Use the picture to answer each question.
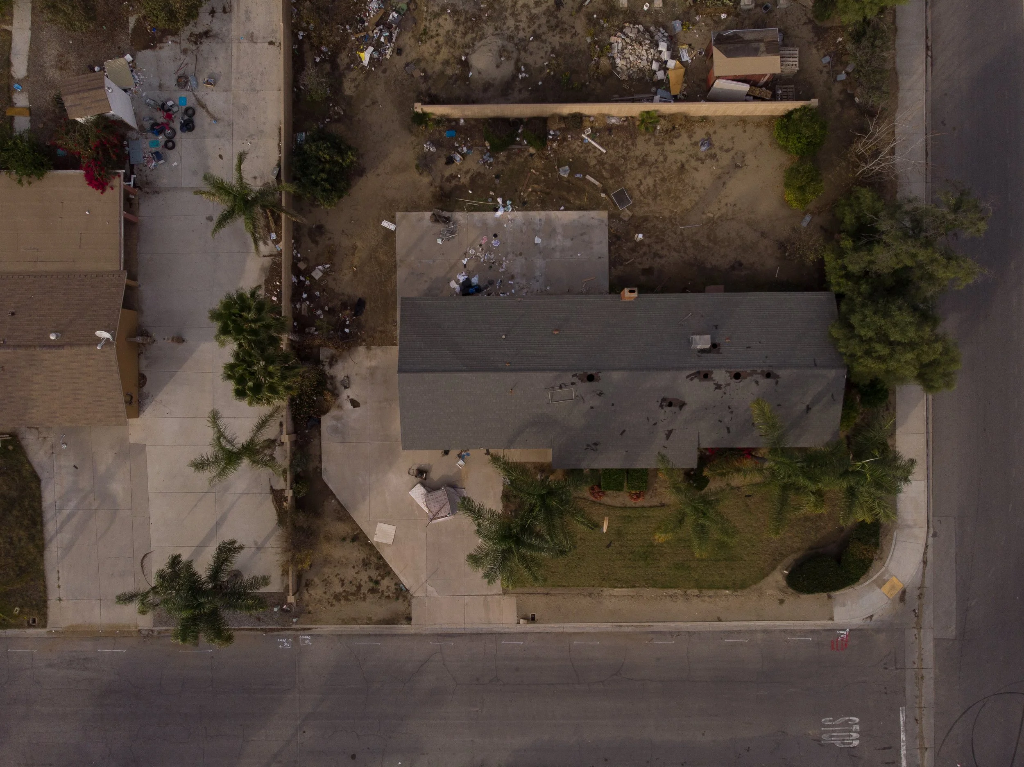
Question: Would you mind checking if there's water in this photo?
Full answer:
No, there is no water in the image.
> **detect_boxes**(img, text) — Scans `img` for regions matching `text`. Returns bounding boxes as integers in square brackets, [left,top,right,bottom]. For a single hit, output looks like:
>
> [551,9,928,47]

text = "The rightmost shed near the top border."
[704,27,781,88]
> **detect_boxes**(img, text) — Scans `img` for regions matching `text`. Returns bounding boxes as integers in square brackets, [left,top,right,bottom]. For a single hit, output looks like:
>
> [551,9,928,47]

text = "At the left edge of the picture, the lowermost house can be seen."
[0,166,138,427]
